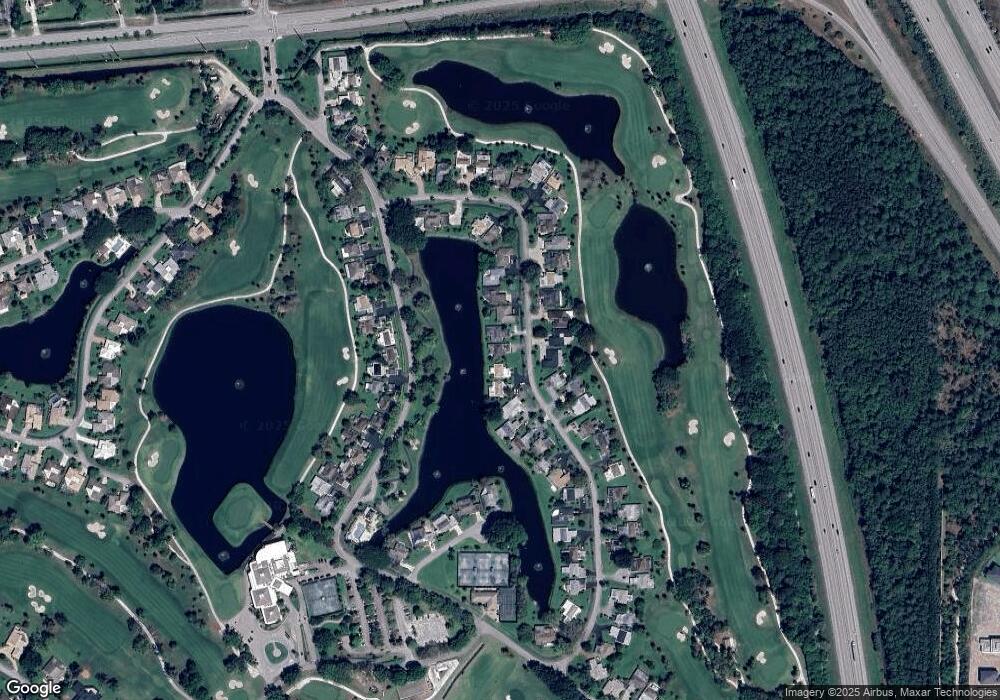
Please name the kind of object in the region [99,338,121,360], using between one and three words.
house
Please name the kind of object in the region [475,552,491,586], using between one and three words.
tennis court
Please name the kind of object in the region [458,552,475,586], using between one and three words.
tennis court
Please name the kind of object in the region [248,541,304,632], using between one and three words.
building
